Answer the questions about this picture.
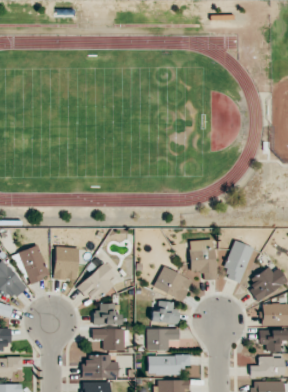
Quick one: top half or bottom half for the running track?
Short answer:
top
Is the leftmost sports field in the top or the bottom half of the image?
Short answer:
top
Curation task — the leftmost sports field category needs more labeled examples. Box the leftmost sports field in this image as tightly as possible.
[0,50,248,192]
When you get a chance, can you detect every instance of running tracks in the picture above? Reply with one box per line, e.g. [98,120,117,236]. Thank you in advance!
[0,35,263,207]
